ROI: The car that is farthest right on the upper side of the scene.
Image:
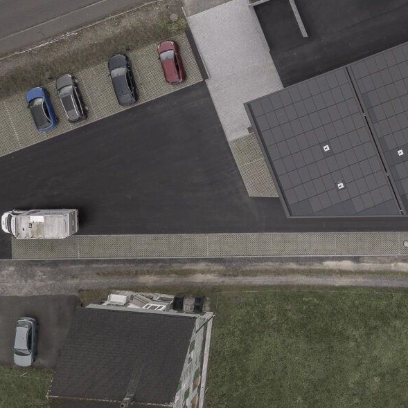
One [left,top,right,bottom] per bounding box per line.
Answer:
[158,40,188,83]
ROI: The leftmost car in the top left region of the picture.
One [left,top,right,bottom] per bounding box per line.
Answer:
[27,88,58,131]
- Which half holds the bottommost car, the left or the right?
left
